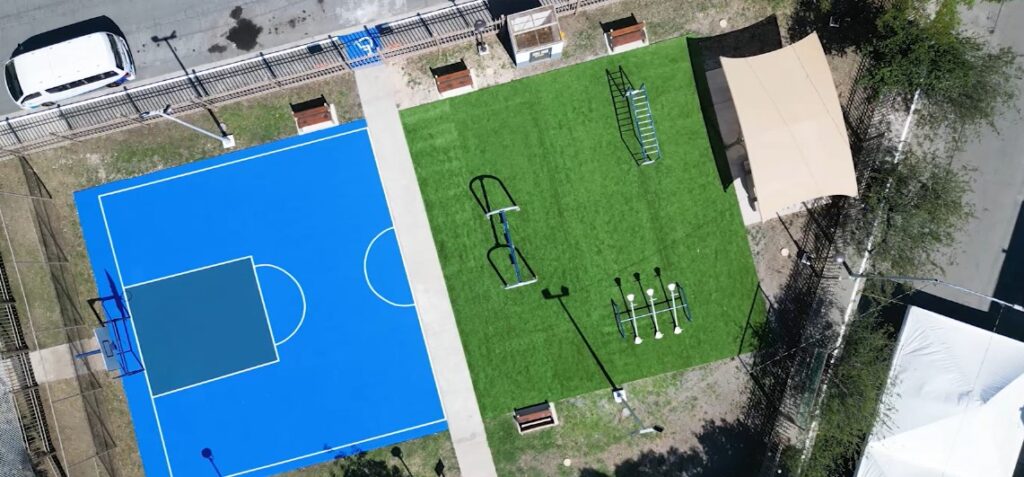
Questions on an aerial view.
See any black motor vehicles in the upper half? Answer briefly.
No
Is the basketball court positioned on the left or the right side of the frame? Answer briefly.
left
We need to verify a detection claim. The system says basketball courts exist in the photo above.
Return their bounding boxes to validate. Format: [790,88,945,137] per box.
[75,121,450,477]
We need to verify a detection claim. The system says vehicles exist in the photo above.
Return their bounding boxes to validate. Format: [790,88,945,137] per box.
[7,34,138,108]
